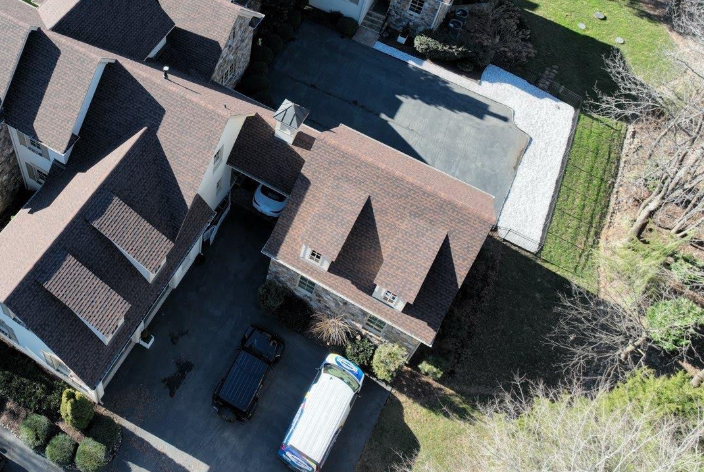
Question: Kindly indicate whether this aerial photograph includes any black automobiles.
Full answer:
Yes, a black automobile can be made out from above.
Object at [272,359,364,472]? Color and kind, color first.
white van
